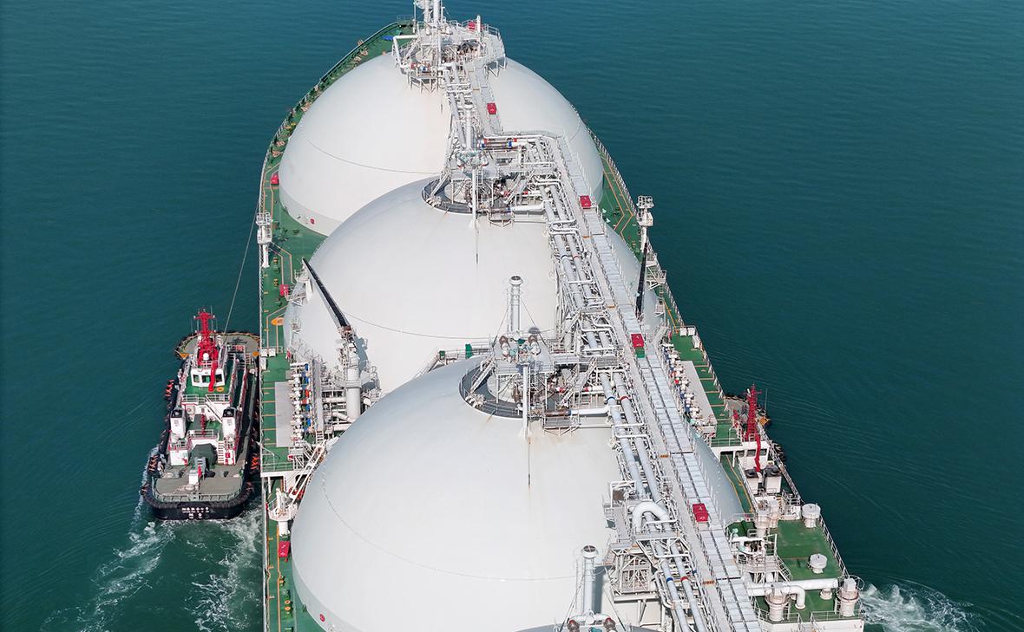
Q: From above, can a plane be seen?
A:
No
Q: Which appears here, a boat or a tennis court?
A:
boat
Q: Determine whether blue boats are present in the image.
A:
No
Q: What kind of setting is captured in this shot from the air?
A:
industrial area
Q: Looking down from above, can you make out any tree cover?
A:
No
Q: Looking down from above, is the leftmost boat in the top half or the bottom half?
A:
bottom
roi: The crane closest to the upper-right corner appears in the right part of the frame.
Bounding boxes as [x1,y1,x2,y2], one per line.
[634,245,657,346]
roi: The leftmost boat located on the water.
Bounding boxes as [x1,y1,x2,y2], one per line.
[139,309,261,520]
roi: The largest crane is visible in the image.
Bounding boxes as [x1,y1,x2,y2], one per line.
[288,254,388,407]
